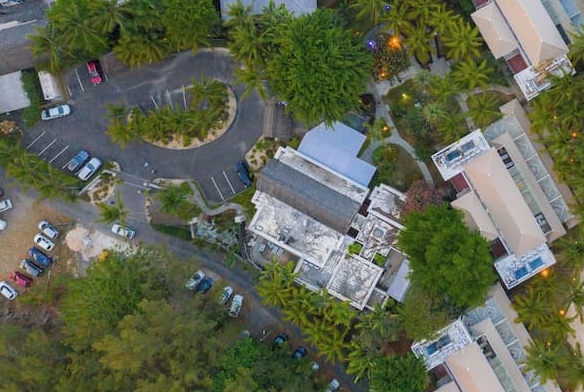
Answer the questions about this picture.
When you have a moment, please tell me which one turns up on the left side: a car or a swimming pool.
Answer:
car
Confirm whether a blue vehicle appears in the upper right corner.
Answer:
No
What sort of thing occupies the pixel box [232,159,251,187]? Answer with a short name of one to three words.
car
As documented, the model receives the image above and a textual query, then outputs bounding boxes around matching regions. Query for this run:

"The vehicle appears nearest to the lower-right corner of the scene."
[321,378,341,392]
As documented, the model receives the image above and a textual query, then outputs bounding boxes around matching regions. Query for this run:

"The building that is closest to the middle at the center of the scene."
[248,121,418,310]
